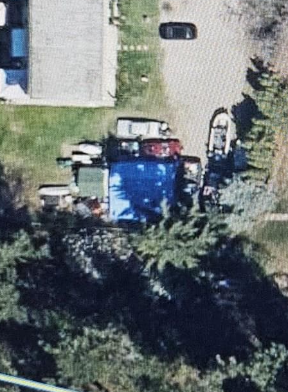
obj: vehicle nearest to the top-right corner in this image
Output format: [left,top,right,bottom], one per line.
[160,22,197,40]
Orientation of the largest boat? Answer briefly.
vertically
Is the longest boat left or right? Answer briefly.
right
